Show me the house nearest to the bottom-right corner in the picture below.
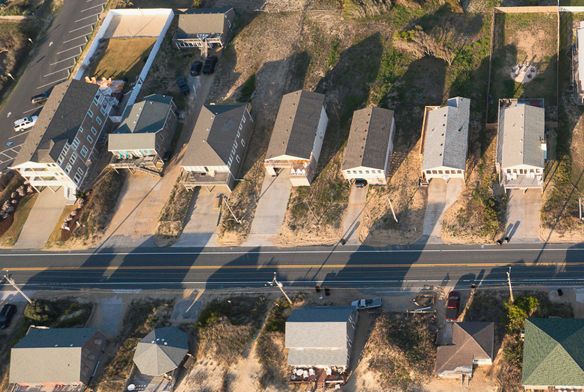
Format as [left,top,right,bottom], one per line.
[522,318,584,392]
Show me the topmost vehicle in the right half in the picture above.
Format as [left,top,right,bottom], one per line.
[354,178,367,191]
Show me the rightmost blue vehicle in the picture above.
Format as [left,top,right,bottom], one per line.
[355,295,383,310]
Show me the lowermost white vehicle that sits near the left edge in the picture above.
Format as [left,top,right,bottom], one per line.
[11,116,33,133]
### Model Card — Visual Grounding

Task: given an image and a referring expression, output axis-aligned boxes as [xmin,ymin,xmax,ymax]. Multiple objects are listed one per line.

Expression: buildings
[120,322,200,392]
[265,90,331,186]
[178,105,259,202]
[285,295,361,392]
[2,312,118,392]
[341,107,397,187]
[494,102,545,202]
[522,318,584,392]
[417,92,471,187]
[569,19,584,111]
[434,322,494,384]
[9,38,124,214]
[174,6,238,71]
[109,90,182,186]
